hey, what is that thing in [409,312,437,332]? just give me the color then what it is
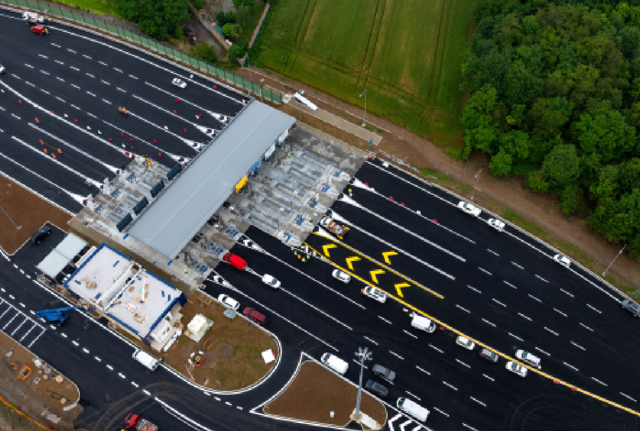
white vehicle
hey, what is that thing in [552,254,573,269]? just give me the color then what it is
white car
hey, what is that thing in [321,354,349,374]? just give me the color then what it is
white vehicle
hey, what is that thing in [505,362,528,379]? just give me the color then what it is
white car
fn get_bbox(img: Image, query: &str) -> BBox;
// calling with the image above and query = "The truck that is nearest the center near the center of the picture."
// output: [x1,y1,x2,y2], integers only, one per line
[313,209,351,240]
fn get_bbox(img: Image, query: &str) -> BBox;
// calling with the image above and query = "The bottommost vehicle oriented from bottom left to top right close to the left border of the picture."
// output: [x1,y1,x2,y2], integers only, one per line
[30,225,52,243]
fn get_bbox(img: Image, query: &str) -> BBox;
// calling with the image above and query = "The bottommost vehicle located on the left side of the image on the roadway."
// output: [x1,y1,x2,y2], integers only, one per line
[118,404,166,431]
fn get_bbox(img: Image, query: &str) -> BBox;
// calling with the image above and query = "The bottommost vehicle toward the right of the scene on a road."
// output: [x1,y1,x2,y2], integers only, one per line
[396,396,431,422]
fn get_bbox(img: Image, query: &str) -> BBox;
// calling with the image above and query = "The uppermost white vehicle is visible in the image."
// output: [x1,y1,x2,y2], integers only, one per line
[19,12,45,25]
